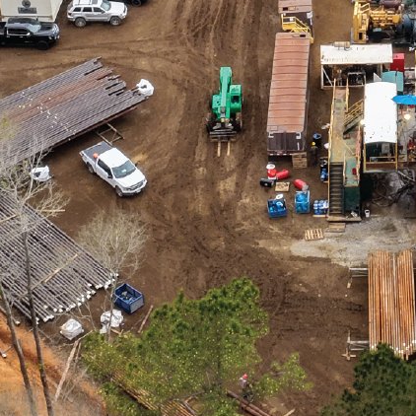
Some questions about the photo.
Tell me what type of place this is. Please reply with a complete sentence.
This image shows an industrial area.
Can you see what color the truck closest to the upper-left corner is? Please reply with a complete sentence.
In this view, the truck closest to the upper-left corner is black.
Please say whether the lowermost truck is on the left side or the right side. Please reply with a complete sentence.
The lowermost truck sits on the left side.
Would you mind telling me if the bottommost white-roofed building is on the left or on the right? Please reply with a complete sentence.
The bottommost white-roofed building appears in the right half of the scene.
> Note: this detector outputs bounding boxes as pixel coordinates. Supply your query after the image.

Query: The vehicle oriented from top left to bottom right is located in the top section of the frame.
[72,130,148,192]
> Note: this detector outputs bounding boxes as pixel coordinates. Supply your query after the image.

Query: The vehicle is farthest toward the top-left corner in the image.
[0,17,61,52]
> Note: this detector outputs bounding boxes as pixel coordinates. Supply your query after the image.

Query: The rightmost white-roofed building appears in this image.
[363,81,400,217]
